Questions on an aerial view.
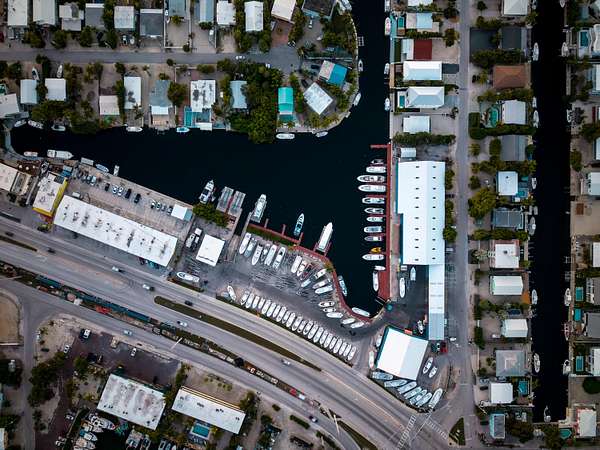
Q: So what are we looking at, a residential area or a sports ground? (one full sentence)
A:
The picture captures a residential area.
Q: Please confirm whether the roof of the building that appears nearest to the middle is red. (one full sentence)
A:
No, the roof of the building that appears nearest to the middle is white.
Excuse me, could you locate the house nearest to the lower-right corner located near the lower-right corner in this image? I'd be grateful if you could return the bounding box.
[575,407,596,437]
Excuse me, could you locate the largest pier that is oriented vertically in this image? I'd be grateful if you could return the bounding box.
[378,143,391,303]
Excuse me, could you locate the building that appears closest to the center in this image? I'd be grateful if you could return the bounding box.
[196,234,224,266]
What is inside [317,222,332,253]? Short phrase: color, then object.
white boat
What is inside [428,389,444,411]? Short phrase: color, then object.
white boat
